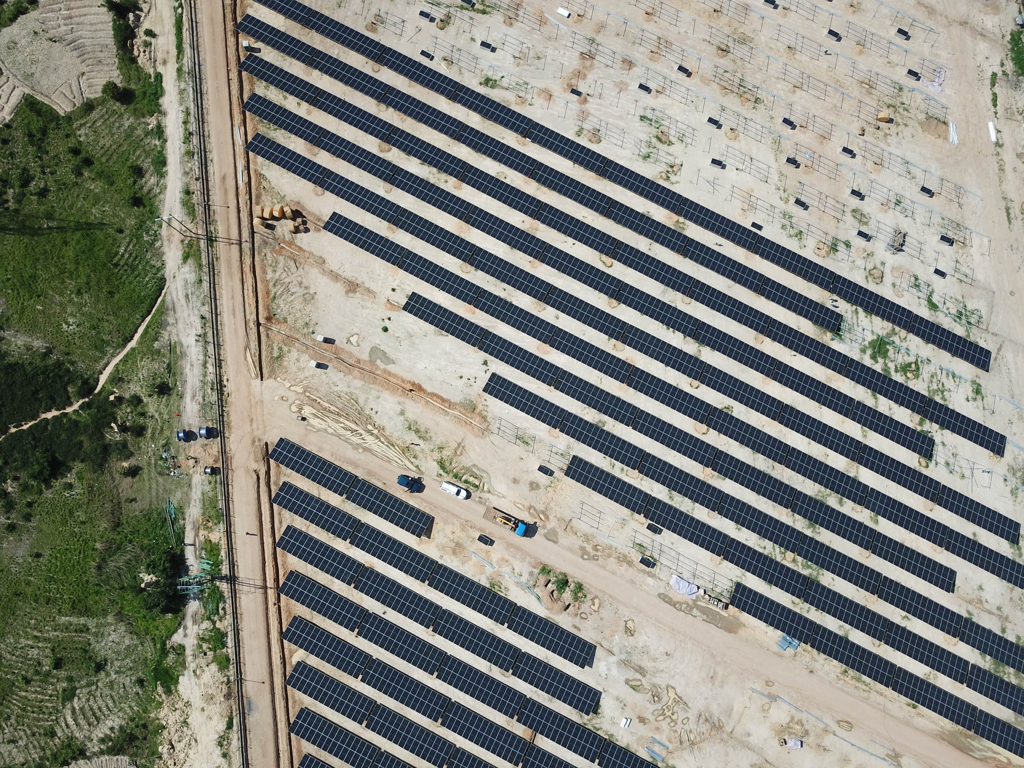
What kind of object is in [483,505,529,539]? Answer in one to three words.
truck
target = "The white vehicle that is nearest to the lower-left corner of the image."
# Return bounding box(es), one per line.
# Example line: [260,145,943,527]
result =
[439,481,467,500]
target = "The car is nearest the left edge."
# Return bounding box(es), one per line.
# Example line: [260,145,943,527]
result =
[396,475,422,494]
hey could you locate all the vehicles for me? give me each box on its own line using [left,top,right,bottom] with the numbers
[483,505,529,539]
[439,481,467,500]
[396,475,422,494]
